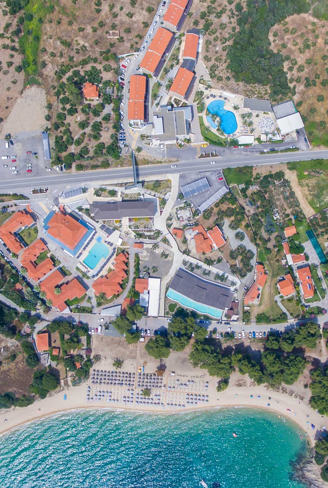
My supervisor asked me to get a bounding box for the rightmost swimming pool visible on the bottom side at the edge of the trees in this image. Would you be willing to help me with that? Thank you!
[168,288,222,317]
